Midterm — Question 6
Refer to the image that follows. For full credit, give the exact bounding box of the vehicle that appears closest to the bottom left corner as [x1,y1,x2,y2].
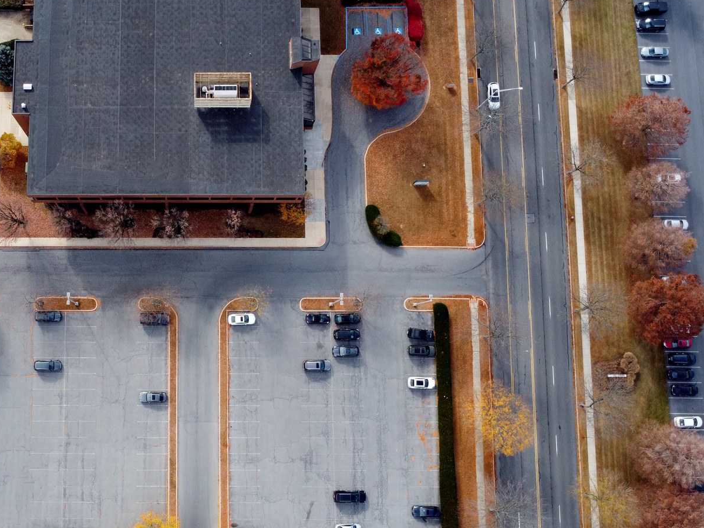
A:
[33,360,63,373]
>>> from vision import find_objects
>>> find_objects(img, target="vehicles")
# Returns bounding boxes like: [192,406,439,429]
[35,310,63,323]
[332,490,366,504]
[333,313,360,324]
[331,345,359,358]
[228,314,255,325]
[139,313,169,325]
[306,313,329,324]
[411,500,440,519]
[332,329,359,341]
[645,74,670,86]
[486,83,501,110]
[673,415,702,429]
[408,345,435,358]
[139,391,167,404]
[405,328,434,340]
[640,45,668,59]
[635,19,666,31]
[303,361,330,372]
[33,360,63,373]
[668,383,698,397]
[663,338,692,349]
[666,352,696,366]
[634,1,668,14]
[333,523,361,528]
[666,368,694,380]
[407,377,435,390]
